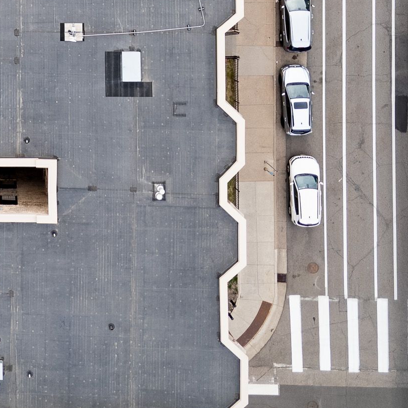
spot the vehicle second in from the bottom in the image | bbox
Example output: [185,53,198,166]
[279,63,317,136]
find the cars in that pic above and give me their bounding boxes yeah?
[287,153,326,228]
[279,63,317,136]
[279,0,317,54]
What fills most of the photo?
buildings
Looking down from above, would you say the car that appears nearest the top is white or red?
white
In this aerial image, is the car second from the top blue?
No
